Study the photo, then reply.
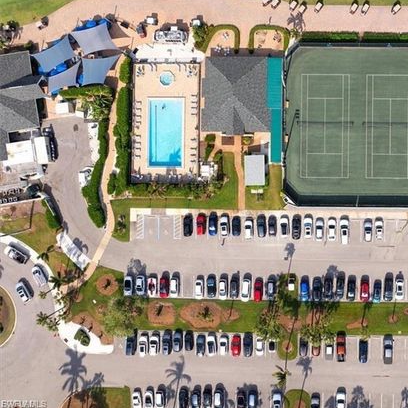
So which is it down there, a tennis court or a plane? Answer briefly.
tennis court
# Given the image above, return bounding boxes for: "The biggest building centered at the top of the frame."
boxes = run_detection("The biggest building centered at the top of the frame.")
[201,56,271,137]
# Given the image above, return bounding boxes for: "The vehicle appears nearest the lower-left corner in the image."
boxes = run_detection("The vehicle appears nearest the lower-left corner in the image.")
[15,281,32,302]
